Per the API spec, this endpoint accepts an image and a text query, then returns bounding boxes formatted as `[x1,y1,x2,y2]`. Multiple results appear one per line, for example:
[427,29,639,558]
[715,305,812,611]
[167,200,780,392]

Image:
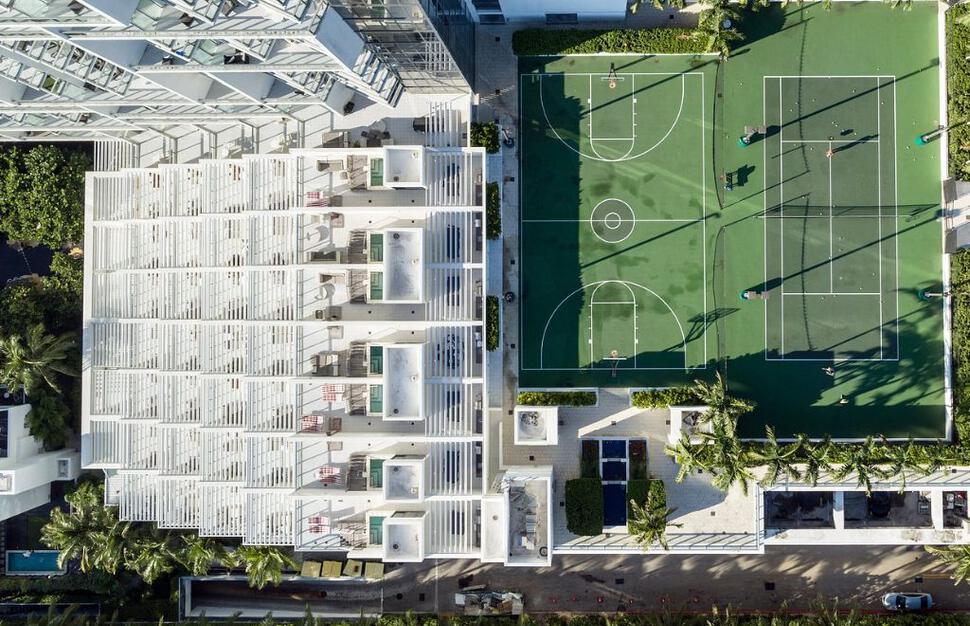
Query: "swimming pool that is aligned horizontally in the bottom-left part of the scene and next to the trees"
[5,549,67,575]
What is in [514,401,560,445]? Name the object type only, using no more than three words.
building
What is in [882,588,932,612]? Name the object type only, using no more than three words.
car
